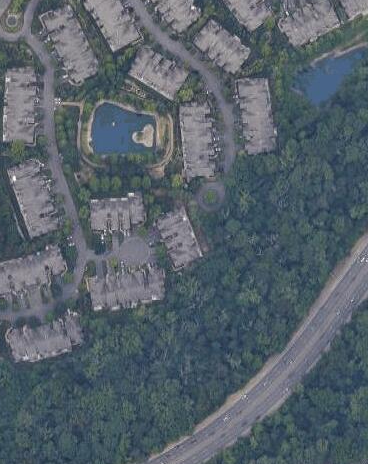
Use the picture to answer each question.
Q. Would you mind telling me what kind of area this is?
residential area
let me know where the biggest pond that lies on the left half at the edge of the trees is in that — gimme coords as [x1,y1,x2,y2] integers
[91,102,156,155]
